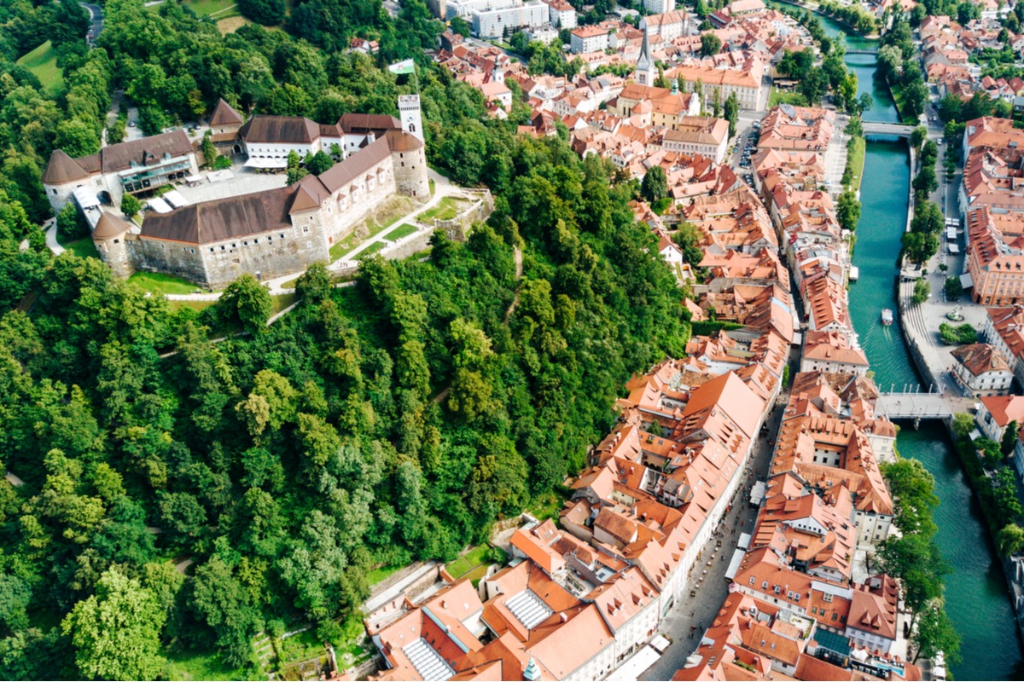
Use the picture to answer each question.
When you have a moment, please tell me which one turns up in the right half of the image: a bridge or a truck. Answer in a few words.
bridge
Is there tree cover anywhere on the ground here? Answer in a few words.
Yes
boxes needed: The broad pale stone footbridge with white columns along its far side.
[876,381,958,432]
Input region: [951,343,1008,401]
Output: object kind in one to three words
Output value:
house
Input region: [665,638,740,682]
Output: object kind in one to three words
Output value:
house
